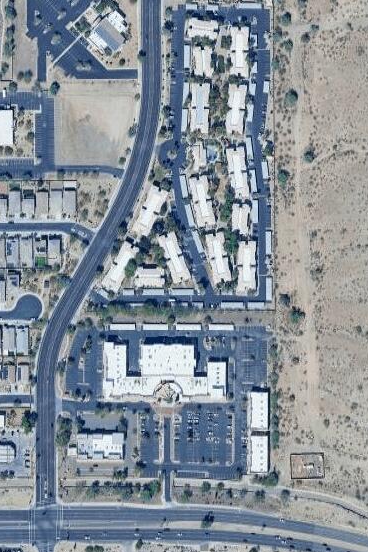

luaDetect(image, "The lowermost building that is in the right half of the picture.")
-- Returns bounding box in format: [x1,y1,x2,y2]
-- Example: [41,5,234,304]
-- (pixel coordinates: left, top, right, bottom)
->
[251,437,268,473]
